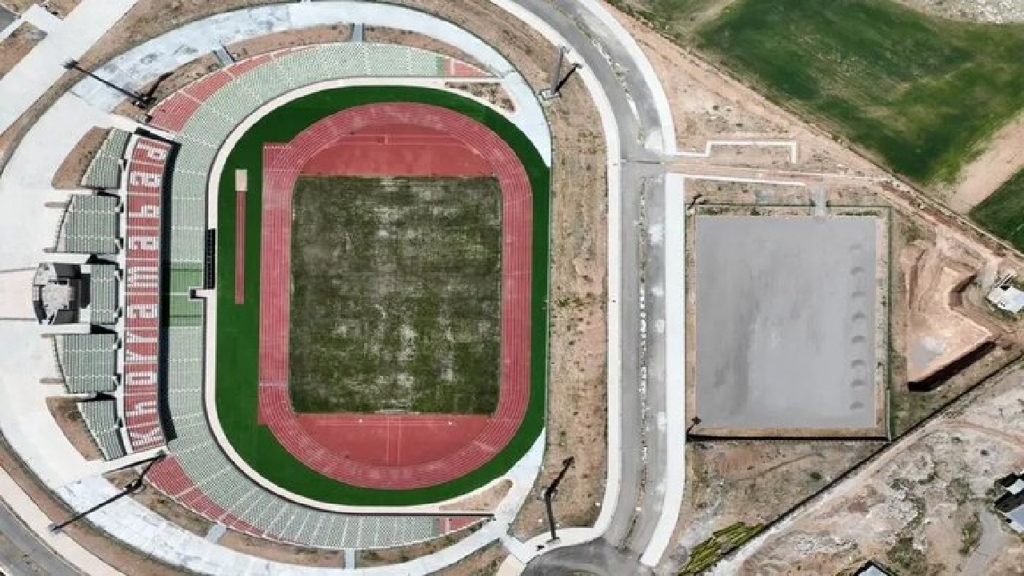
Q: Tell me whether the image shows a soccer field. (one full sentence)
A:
Yes, you can see a soccer field in this photo.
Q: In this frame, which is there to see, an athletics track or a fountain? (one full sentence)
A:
The one in the frame is an athletics track.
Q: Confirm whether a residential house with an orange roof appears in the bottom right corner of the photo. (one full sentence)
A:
No, there is no residential house with an orange roof in the bottom right corner of the photo.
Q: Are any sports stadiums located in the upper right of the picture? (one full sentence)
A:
No, looking in the upper right of the picture, there is no sports stadium.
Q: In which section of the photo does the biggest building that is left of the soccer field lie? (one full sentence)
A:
You can find the biggest building that is left of the soccer field in the left area of the picture.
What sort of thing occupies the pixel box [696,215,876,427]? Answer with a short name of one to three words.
sports court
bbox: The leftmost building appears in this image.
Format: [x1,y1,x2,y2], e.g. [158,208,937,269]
[33,264,92,323]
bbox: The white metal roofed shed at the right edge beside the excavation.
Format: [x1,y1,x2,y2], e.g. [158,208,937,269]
[983,278,1024,314]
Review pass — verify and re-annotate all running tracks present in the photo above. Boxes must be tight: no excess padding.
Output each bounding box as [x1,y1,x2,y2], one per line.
[259,102,533,490]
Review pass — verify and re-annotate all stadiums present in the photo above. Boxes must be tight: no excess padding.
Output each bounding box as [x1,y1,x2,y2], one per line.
[39,23,496,568]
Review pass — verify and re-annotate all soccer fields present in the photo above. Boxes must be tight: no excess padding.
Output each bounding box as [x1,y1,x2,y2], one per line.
[291,177,501,413]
